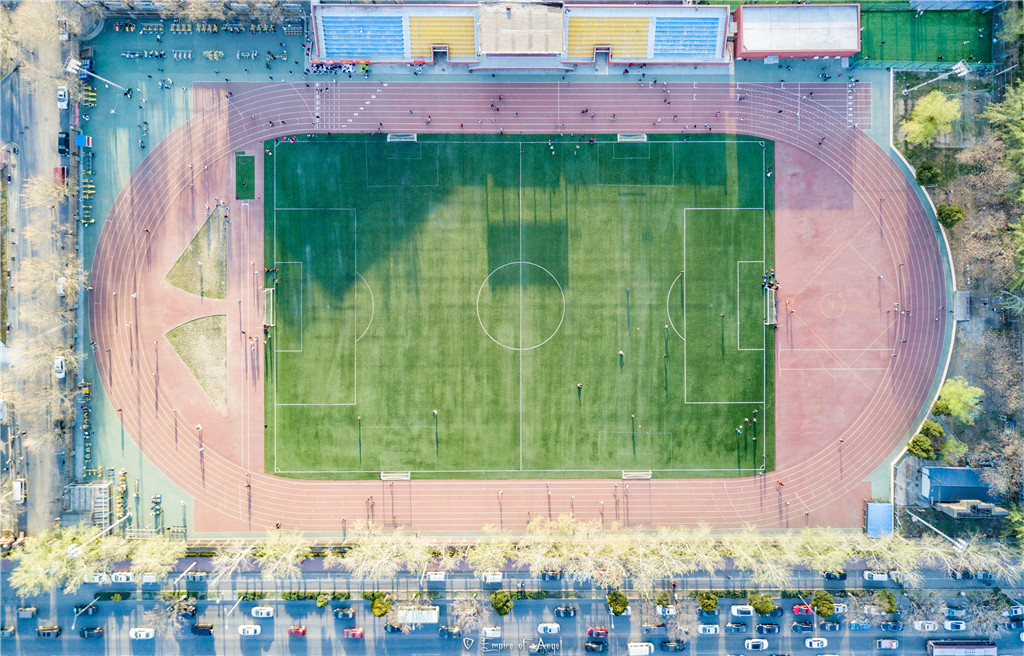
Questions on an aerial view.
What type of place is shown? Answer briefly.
sports ground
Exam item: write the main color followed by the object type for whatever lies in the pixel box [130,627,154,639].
white vehicle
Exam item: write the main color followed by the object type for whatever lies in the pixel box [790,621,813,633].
blue vehicle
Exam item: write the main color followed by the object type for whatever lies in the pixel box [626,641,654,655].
white vehicle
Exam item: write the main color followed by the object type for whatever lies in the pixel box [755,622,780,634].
blue vehicle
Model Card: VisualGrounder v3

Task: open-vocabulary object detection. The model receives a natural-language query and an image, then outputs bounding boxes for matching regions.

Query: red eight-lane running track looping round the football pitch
[88,82,947,531]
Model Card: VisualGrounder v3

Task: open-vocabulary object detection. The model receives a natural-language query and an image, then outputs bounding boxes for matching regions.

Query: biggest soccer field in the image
[264,133,774,480]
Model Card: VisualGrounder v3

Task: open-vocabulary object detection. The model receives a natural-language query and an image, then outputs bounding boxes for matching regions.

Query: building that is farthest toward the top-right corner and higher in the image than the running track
[734,4,859,67]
